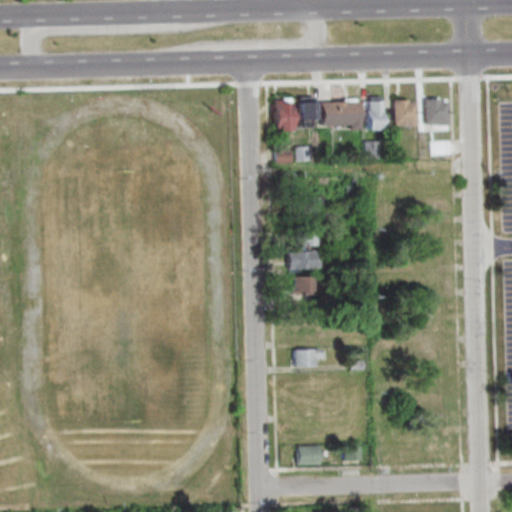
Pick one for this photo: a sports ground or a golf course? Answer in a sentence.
It's a sports ground.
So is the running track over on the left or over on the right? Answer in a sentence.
The running track sits on the left side.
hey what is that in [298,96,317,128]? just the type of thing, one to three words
house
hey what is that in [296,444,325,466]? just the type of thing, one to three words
house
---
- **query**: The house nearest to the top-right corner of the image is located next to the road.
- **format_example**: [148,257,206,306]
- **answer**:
[423,96,450,124]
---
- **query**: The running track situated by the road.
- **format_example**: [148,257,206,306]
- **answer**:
[18,90,230,496]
